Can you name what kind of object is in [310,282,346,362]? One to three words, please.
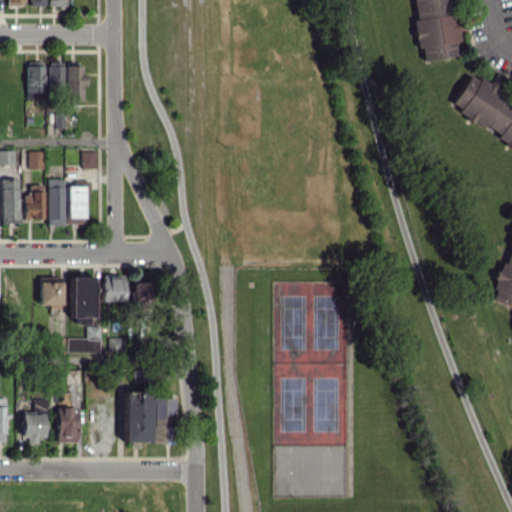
tennis court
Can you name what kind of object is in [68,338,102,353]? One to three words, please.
building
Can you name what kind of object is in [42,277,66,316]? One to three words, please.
house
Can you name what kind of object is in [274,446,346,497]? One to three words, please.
sports court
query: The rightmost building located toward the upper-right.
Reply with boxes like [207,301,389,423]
[454,76,512,146]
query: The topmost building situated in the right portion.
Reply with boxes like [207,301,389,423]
[416,0,464,62]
